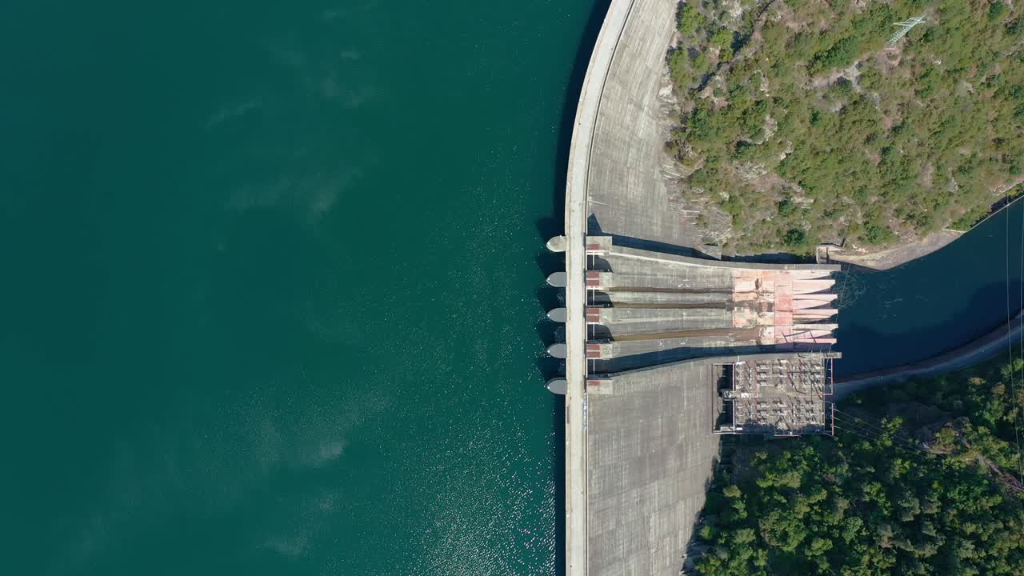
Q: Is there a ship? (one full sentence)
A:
No, the scene contains no ship.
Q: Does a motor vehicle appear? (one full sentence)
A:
No, the photo shows no motor vehicle.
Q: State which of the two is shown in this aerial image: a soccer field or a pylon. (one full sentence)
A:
This aerial view contains a pylon.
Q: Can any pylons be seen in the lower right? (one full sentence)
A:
No, looking in the lower right, there is no pylon.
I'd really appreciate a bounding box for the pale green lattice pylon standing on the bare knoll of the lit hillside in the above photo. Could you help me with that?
[882,16,930,52]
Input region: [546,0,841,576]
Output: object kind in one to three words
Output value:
dam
